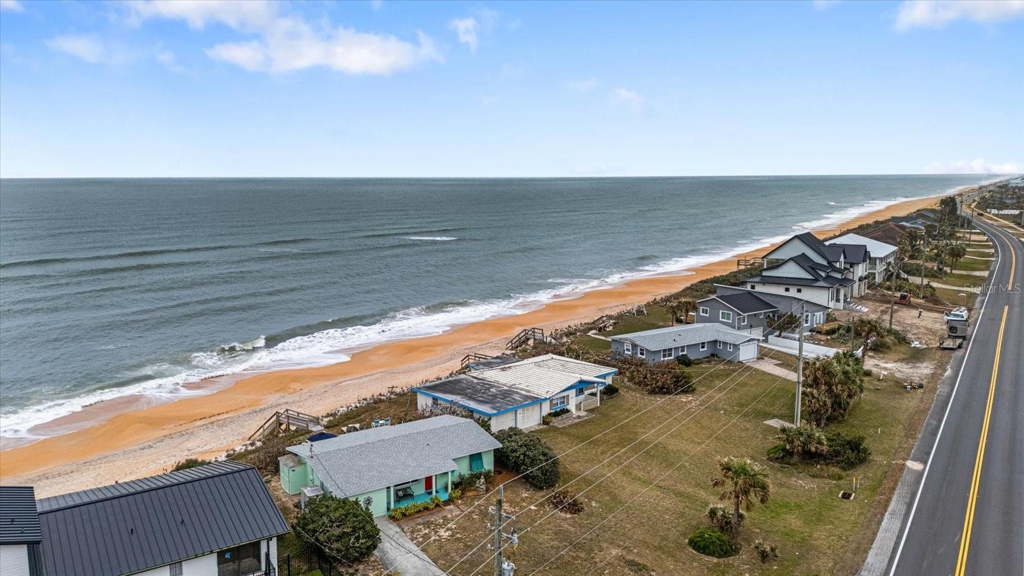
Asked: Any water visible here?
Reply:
Yes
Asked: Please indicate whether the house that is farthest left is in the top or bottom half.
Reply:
bottom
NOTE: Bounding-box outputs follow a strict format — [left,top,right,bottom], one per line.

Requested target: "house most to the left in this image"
[0,455,287,576]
